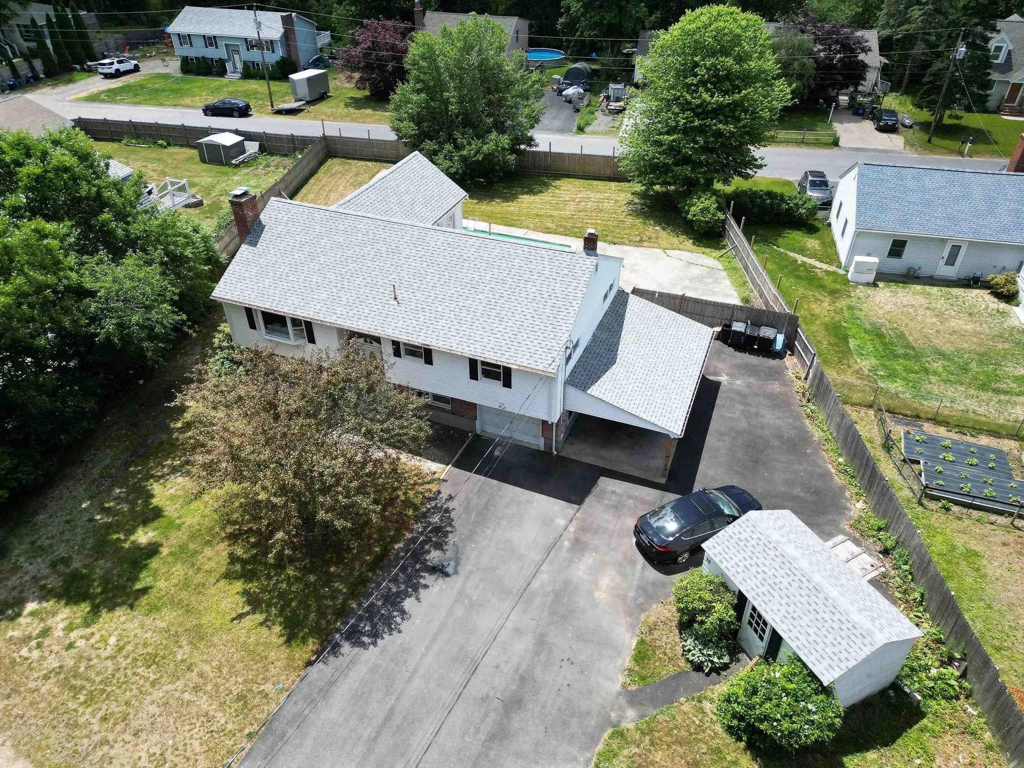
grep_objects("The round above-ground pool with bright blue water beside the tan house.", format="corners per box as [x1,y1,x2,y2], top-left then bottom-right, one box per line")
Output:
[519,47,564,71]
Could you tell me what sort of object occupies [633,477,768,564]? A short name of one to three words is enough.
car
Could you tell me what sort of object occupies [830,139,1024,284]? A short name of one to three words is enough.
house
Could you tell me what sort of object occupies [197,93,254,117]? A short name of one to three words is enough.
car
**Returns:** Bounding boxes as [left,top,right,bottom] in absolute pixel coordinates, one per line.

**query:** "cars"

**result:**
[786,161,838,203]
[197,93,254,117]
[633,477,768,564]
[88,52,139,76]
[859,103,904,127]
